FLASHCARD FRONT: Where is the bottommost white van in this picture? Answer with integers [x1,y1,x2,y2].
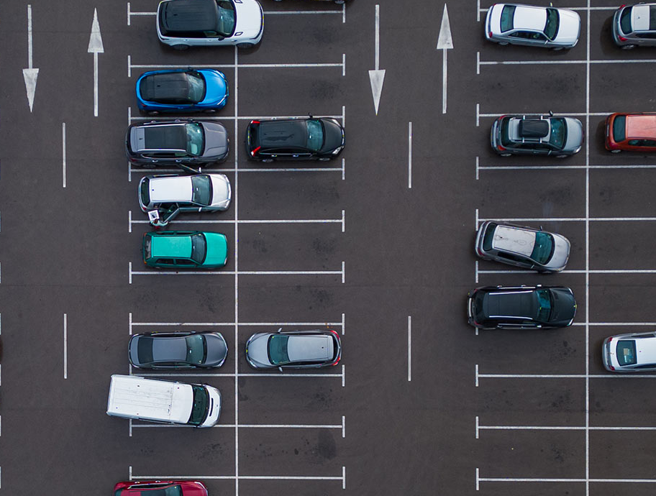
[108,372,221,431]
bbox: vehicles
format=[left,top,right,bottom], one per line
[245,115,347,165]
[135,66,230,117]
[488,110,585,159]
[600,112,656,154]
[598,331,656,375]
[472,219,572,271]
[465,282,580,333]
[114,476,208,496]
[482,0,581,51]
[128,326,227,374]
[126,117,230,168]
[609,2,656,52]
[244,326,342,373]
[156,0,265,52]
[139,161,232,221]
[108,372,221,431]
[143,226,229,271]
